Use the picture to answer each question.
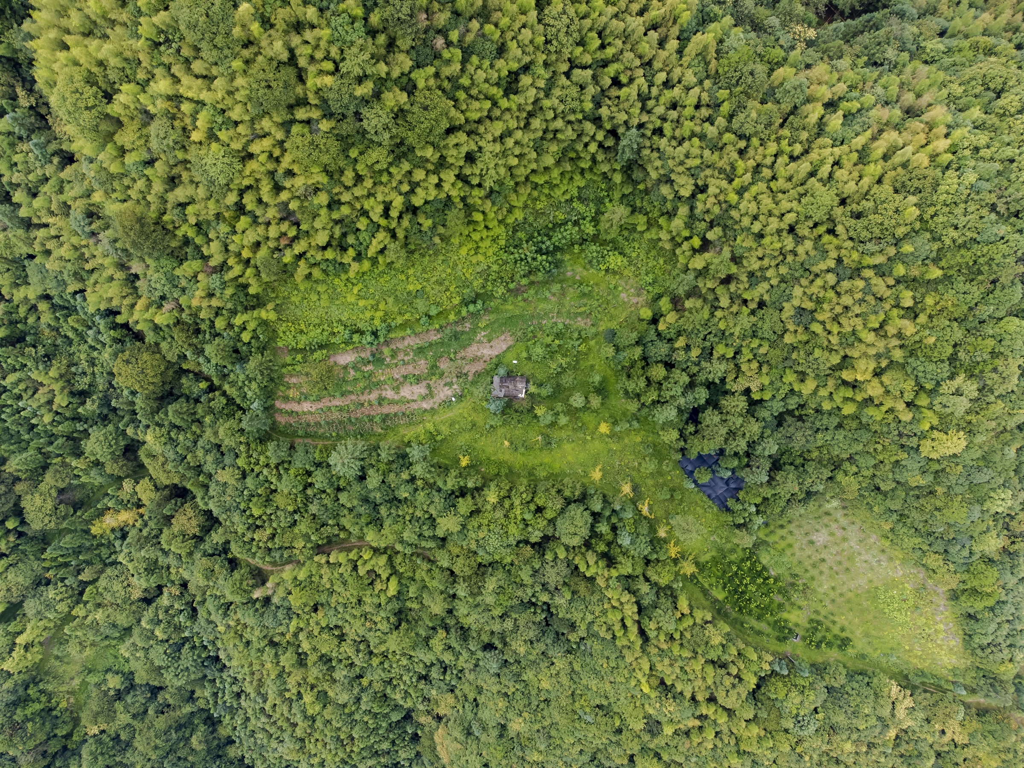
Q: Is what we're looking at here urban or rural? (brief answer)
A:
rural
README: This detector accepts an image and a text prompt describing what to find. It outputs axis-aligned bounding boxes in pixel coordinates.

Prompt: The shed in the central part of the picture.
[491,376,526,398]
